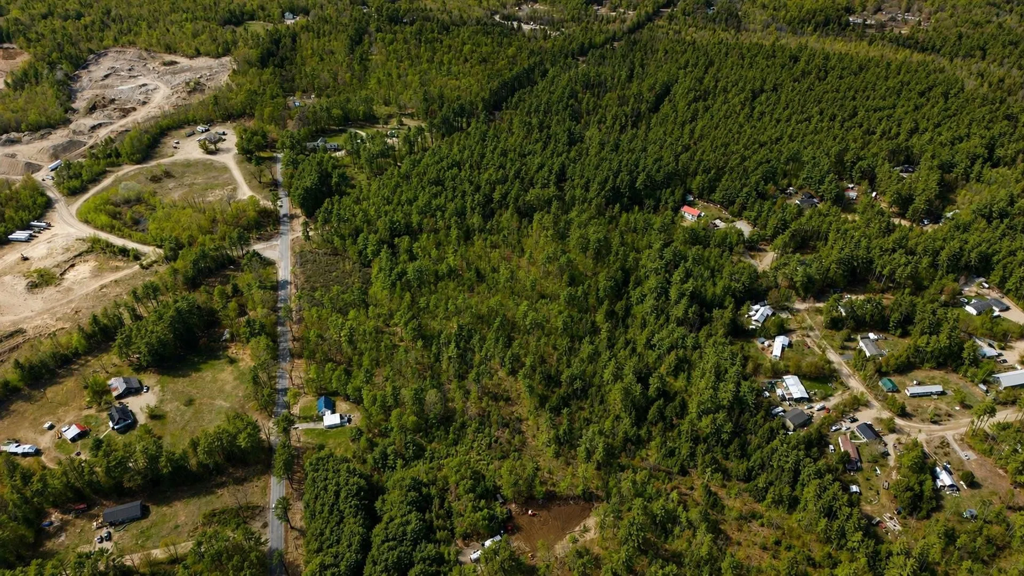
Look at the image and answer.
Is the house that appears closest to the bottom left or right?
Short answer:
left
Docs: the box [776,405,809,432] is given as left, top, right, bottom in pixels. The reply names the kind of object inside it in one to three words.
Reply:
building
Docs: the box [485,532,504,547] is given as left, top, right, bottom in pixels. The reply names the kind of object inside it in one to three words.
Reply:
vehicle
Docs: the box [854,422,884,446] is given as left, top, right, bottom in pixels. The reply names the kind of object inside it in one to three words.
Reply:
house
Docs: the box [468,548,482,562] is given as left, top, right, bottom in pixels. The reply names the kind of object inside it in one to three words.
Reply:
vehicle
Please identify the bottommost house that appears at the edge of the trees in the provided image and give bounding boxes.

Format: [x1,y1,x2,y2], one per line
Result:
[94,497,145,532]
